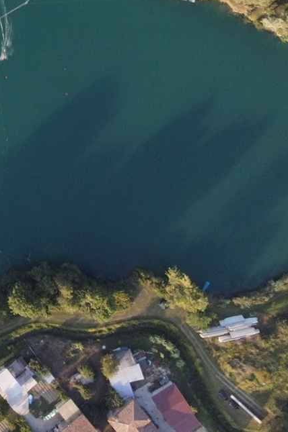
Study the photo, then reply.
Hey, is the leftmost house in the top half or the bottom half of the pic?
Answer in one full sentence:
The leftmost house is in the bottom half of the image.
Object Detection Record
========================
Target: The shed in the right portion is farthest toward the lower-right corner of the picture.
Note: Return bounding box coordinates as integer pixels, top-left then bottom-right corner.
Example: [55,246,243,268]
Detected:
[149,380,204,432]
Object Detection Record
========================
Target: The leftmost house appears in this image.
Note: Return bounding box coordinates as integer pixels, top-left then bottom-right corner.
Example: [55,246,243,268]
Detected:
[0,355,38,417]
